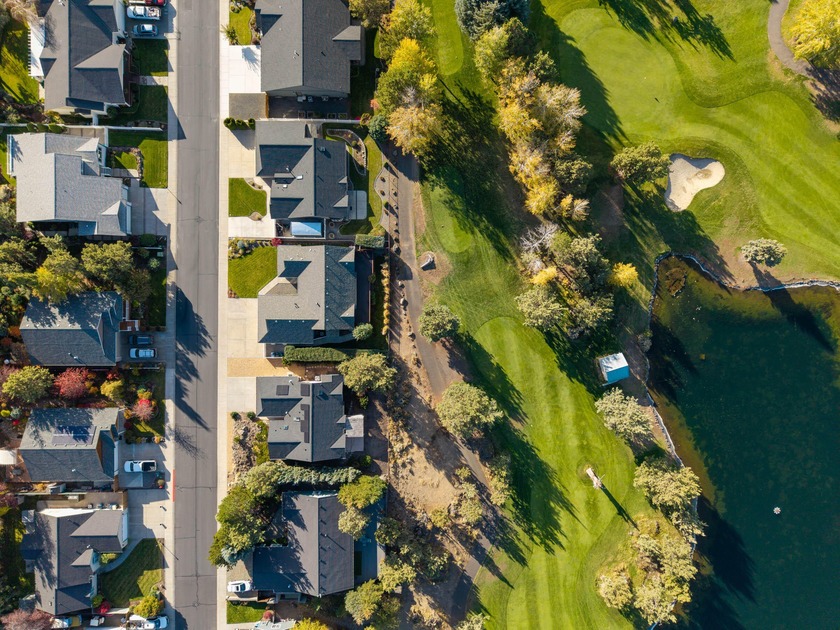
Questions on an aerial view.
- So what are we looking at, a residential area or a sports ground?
residential area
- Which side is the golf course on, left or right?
right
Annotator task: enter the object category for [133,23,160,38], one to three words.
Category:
car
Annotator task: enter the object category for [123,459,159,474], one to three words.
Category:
vehicle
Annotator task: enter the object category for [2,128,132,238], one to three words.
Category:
house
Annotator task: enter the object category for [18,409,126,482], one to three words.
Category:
house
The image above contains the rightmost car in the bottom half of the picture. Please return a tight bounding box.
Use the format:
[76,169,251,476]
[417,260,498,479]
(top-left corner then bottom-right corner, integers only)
[226,579,253,594]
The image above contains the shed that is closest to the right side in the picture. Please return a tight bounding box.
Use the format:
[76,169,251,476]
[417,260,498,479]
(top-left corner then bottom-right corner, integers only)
[595,353,629,383]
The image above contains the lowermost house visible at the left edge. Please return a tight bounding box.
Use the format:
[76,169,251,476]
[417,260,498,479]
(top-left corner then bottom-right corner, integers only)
[20,505,130,618]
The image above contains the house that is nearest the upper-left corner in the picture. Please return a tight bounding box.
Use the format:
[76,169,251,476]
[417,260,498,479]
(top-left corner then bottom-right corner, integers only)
[25,0,132,115]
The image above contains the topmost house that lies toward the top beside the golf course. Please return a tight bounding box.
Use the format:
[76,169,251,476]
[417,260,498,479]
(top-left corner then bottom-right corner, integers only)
[259,0,361,96]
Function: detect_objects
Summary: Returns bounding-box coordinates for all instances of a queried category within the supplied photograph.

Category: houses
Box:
[259,0,361,96]
[258,244,356,343]
[2,128,132,238]
[252,491,354,603]
[20,505,130,618]
[18,291,128,365]
[256,120,349,218]
[256,376,364,468]
[25,0,132,115]
[18,409,126,482]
